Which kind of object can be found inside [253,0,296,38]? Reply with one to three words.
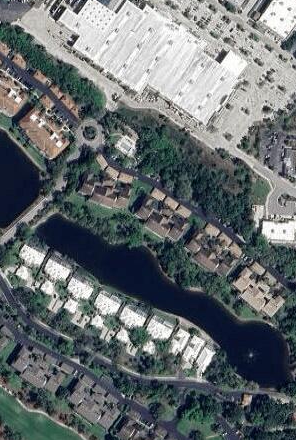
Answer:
building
